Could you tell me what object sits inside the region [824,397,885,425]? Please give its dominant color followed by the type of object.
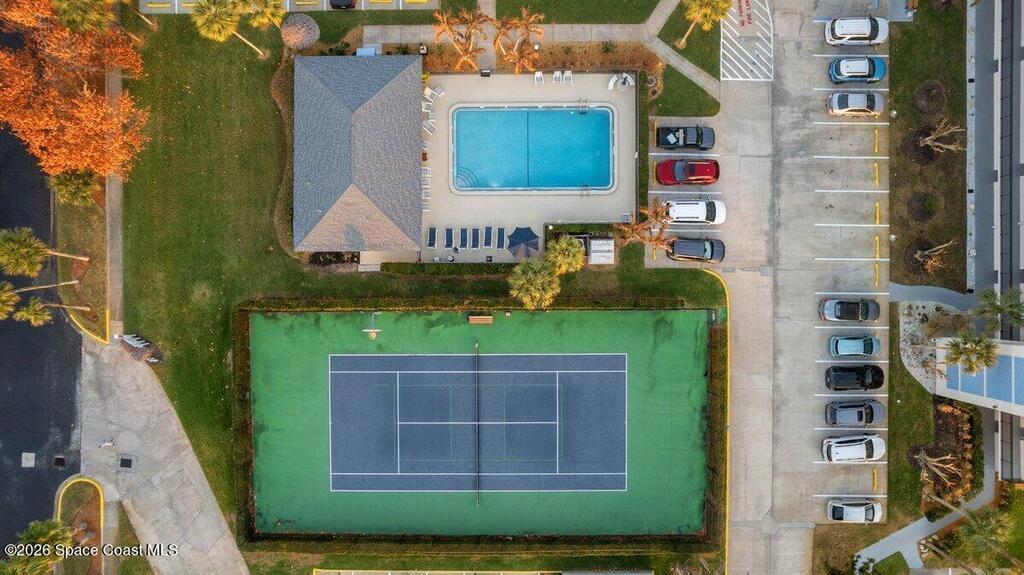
gray car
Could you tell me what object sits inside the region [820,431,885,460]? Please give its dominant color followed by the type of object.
white car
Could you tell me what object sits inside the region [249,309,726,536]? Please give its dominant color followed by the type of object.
green tennis court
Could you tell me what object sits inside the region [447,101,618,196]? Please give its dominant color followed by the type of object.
blue swimming pool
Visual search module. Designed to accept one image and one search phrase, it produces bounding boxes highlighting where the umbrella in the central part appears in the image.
[505,228,540,257]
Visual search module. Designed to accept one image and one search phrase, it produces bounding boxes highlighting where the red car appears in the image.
[657,155,719,185]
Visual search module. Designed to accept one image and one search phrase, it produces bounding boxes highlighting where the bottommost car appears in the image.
[826,494,881,522]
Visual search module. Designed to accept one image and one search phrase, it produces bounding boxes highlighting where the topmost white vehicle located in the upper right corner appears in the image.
[824,14,888,46]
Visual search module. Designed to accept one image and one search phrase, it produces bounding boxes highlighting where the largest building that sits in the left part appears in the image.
[293,48,422,251]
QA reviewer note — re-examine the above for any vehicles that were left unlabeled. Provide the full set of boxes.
[666,235,724,264]
[819,296,879,324]
[828,55,886,85]
[820,431,885,460]
[827,90,885,118]
[829,333,880,359]
[657,155,719,185]
[824,397,885,425]
[656,121,716,149]
[332,0,356,8]
[826,494,881,522]
[824,14,888,46]
[663,196,726,226]
[825,363,884,392]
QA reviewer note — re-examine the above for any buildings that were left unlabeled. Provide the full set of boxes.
[293,48,422,251]
[590,239,616,264]
[994,0,1024,491]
